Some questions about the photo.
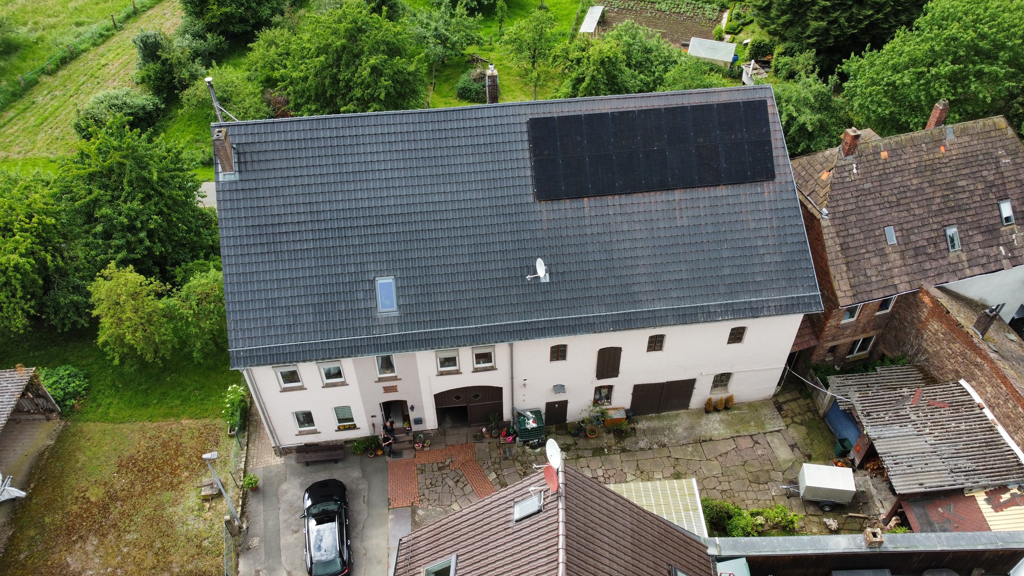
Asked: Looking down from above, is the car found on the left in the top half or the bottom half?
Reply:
bottom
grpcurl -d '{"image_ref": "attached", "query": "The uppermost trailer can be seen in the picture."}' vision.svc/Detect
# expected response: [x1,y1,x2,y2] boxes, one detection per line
[771,465,856,517]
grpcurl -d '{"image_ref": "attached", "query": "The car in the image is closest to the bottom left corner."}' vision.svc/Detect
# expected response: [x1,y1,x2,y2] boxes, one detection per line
[297,480,359,576]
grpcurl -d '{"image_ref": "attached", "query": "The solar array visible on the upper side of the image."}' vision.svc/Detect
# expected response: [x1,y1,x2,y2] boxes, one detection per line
[527,100,776,200]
